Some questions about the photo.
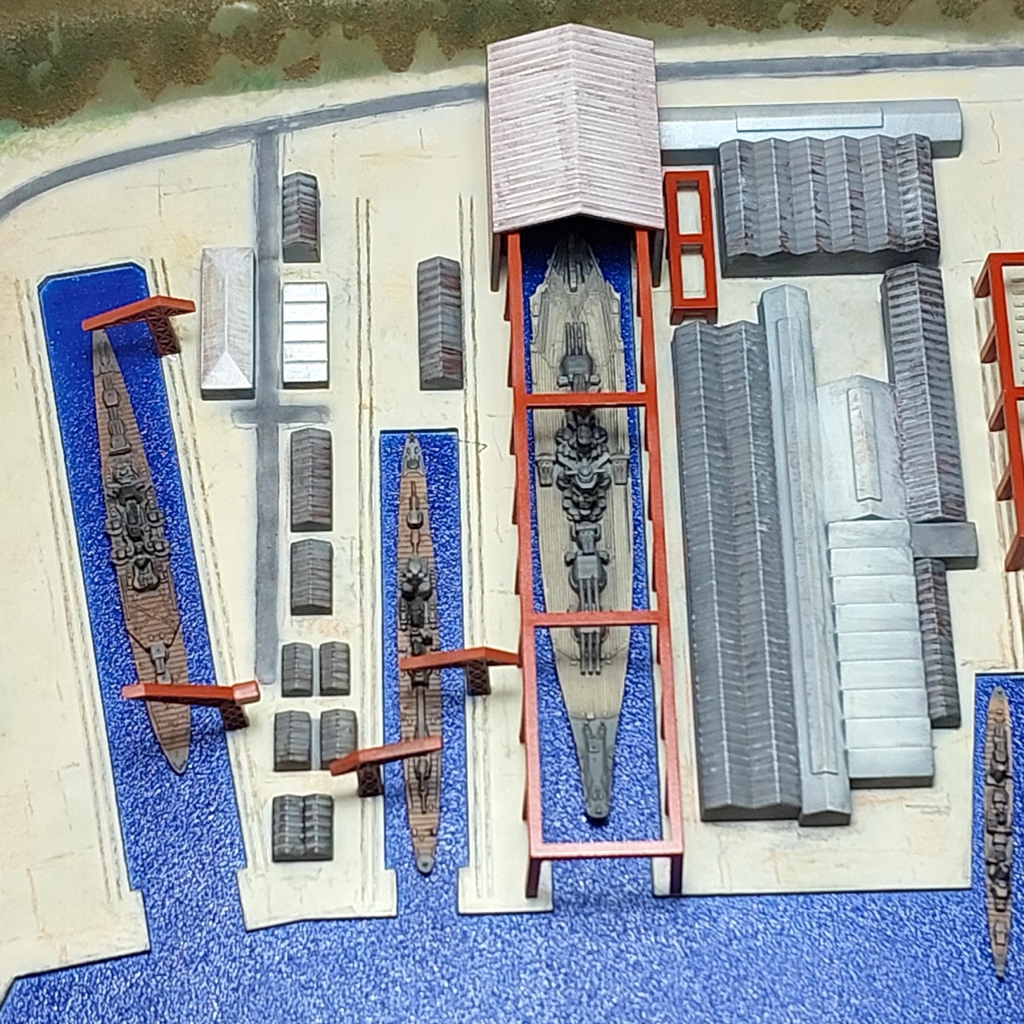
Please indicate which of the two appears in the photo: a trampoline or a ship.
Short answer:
ship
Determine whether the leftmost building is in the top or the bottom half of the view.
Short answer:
top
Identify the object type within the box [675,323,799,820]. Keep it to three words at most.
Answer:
building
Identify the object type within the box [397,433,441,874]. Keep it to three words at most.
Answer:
vessel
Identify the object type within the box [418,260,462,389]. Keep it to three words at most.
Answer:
shed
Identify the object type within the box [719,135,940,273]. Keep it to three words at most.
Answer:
building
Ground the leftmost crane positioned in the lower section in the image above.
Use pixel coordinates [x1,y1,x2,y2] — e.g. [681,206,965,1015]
[122,683,260,735]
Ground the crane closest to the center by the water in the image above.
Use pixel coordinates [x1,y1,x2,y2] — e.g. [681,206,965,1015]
[400,648,520,701]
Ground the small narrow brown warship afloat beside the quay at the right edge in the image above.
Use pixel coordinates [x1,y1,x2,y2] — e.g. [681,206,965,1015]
[984,687,1013,977]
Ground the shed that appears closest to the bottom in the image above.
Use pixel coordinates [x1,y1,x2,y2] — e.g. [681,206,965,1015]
[273,795,333,860]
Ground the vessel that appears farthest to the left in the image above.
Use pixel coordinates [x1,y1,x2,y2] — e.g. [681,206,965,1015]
[93,326,191,775]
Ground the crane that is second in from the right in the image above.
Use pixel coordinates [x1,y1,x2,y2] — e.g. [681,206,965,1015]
[331,739,442,804]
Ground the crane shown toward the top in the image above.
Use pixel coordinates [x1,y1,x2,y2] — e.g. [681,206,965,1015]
[82,297,196,364]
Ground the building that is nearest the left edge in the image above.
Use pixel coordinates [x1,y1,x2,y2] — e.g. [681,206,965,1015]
[201,247,254,399]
